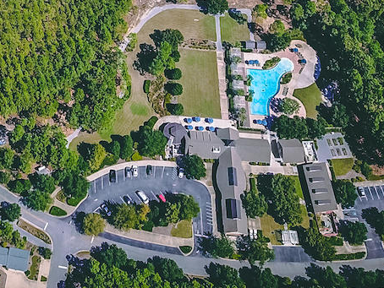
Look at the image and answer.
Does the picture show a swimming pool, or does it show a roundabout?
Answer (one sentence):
There is a swimming pool in the scene.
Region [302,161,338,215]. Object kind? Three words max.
building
